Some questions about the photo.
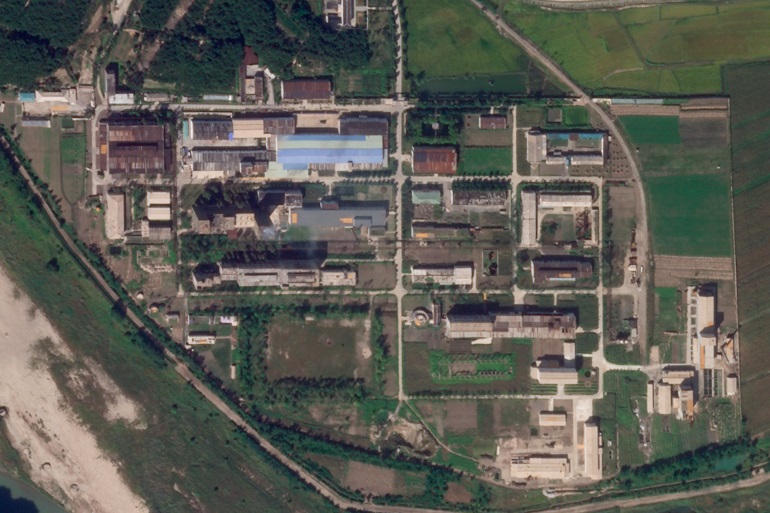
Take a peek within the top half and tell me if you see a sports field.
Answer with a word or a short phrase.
No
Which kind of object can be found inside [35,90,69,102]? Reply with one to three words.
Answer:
house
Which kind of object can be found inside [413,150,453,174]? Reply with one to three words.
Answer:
building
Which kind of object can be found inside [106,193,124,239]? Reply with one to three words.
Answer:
house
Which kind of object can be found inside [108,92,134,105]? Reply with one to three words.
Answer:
building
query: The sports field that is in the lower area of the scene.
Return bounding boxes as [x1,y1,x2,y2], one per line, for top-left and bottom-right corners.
[266,317,372,381]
